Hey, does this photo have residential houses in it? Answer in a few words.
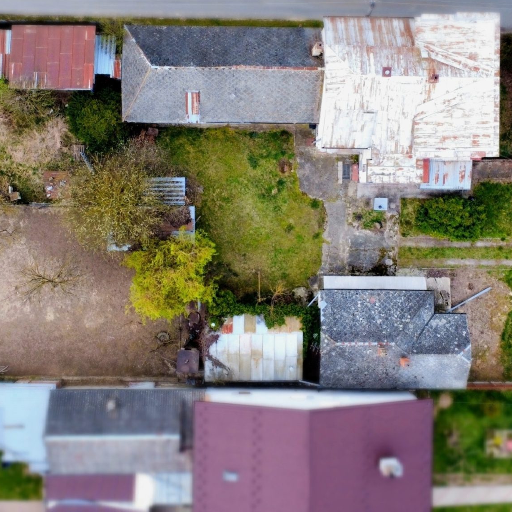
Yes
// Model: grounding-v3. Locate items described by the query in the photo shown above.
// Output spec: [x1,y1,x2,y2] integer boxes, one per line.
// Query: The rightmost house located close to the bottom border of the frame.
[195,388,432,512]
